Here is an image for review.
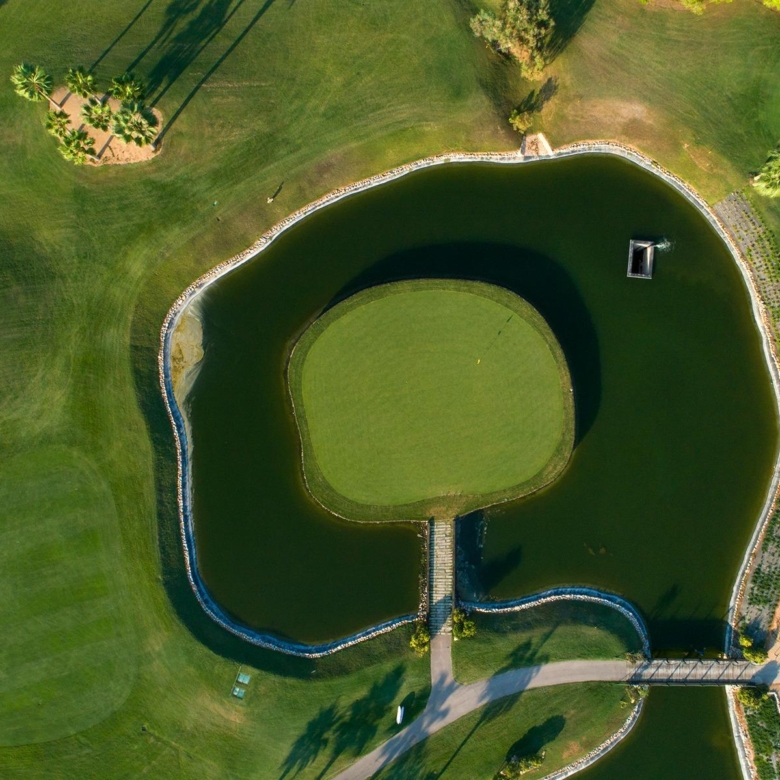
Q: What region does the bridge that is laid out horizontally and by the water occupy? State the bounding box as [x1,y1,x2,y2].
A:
[630,657,761,687]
